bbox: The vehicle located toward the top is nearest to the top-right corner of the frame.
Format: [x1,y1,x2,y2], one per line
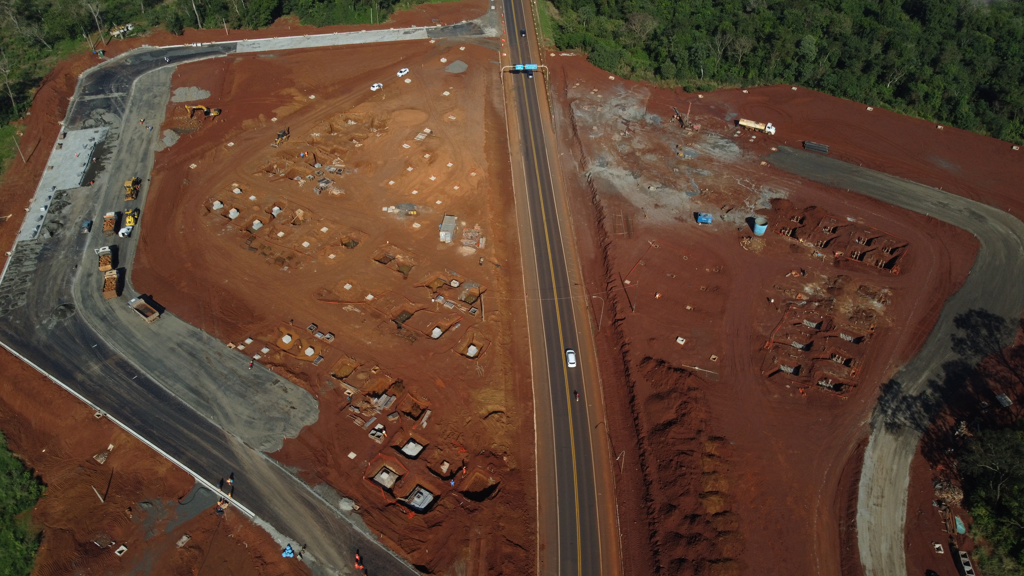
[739,120,775,136]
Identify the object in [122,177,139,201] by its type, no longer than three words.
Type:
work vehicle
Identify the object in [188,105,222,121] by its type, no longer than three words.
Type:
work vehicle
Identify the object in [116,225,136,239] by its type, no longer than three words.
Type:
vehicle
